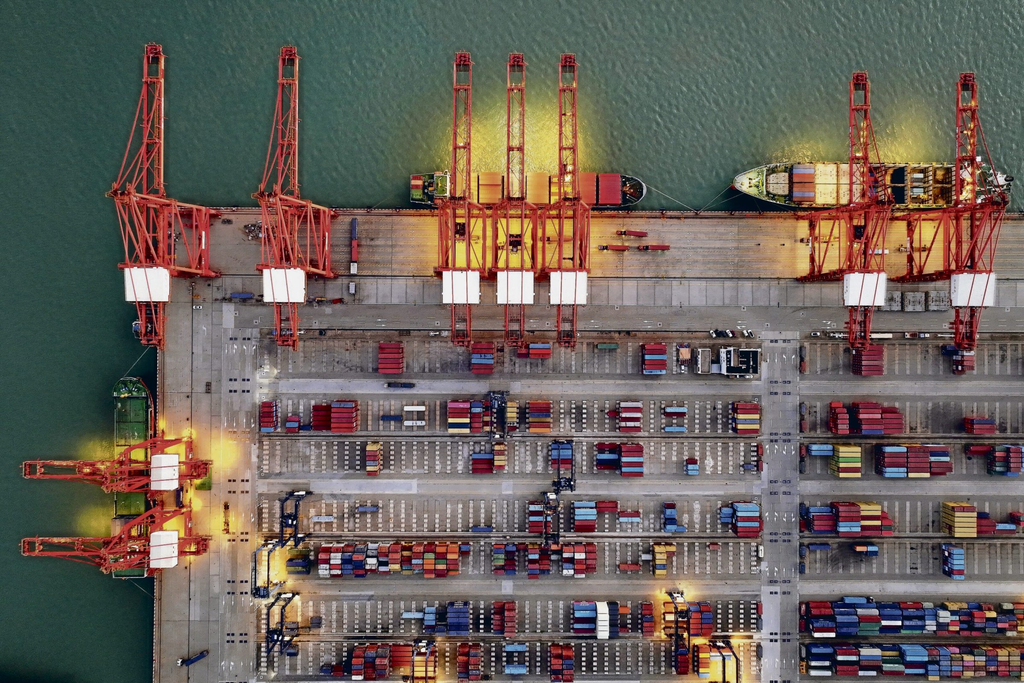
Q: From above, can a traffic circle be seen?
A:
No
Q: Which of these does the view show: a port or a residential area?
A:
port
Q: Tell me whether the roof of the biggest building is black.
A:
Yes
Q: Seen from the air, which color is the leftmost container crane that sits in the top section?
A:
red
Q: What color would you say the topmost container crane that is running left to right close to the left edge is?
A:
red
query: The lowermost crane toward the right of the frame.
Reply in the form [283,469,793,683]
[706,638,741,683]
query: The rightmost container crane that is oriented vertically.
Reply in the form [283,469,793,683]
[887,72,1011,353]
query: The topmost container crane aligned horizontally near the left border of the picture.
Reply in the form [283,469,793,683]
[18,430,215,493]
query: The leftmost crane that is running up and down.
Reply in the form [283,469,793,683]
[108,44,221,349]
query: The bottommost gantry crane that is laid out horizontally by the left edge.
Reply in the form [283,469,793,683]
[17,500,214,574]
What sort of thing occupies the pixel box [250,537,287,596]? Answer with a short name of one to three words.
container crane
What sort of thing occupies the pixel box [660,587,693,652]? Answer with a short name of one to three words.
container crane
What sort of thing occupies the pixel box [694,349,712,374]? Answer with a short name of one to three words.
building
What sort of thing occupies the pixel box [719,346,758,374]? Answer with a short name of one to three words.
building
